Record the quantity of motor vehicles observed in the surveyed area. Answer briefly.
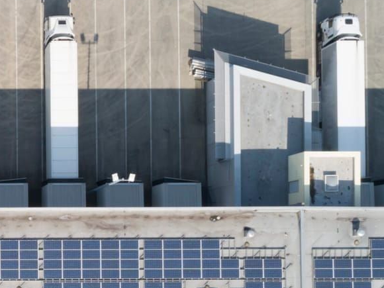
two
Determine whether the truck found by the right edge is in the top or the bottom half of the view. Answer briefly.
top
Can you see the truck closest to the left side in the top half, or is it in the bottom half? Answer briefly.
top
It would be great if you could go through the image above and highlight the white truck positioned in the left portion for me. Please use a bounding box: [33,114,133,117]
[42,17,78,182]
